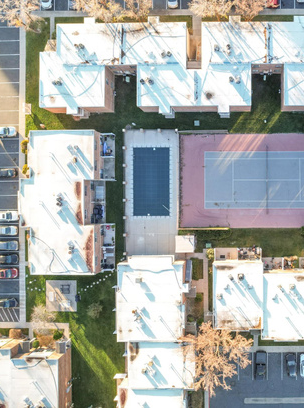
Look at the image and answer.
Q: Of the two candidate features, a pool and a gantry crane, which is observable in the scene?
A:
pool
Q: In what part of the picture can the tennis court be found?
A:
right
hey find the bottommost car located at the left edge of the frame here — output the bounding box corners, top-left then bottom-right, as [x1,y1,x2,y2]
[0,295,19,307]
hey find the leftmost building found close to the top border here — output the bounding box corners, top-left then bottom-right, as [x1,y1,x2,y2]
[38,16,198,120]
